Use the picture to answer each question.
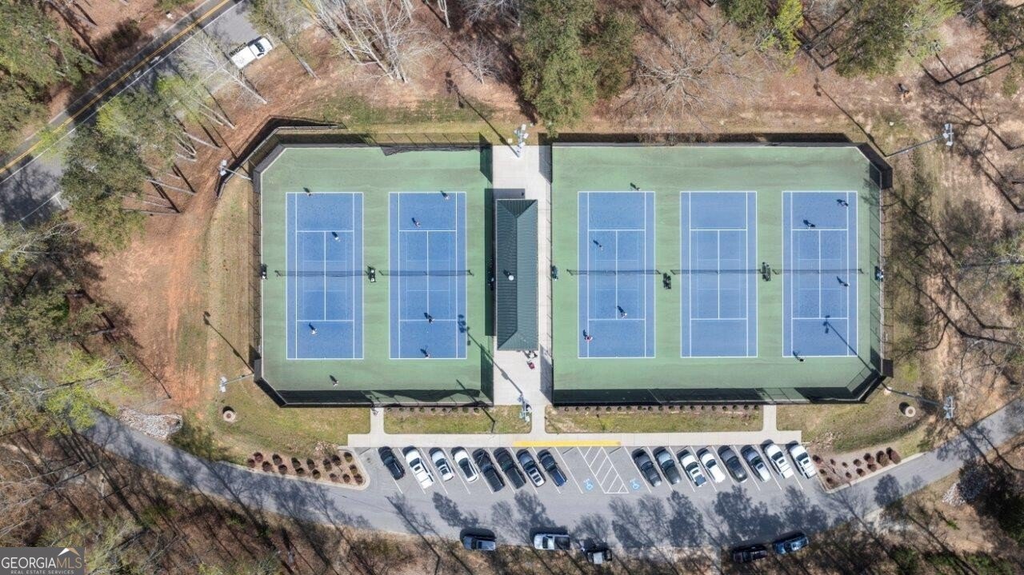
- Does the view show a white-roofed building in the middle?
No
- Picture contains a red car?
No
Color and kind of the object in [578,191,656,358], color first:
blue tennis court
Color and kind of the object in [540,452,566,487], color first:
blue car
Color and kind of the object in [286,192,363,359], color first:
blue tennis court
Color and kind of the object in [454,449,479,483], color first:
white car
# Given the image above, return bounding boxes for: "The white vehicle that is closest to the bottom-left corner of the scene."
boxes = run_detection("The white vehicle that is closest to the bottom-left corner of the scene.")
[404,450,433,488]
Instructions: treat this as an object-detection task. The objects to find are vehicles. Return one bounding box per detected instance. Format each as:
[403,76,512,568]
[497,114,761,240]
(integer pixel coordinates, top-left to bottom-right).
[721,449,747,484]
[773,533,808,554]
[765,444,793,480]
[540,452,566,487]
[636,454,662,489]
[228,38,274,69]
[743,449,770,484]
[404,450,433,488]
[656,453,682,487]
[789,445,817,481]
[582,545,612,563]
[475,452,504,490]
[463,534,495,552]
[518,452,545,487]
[454,449,479,483]
[701,451,727,486]
[380,447,407,482]
[534,533,570,550]
[430,450,455,483]
[680,454,707,490]
[496,451,524,488]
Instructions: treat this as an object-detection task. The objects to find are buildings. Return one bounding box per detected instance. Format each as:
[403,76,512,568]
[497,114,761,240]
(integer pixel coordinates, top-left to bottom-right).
[495,199,538,351]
